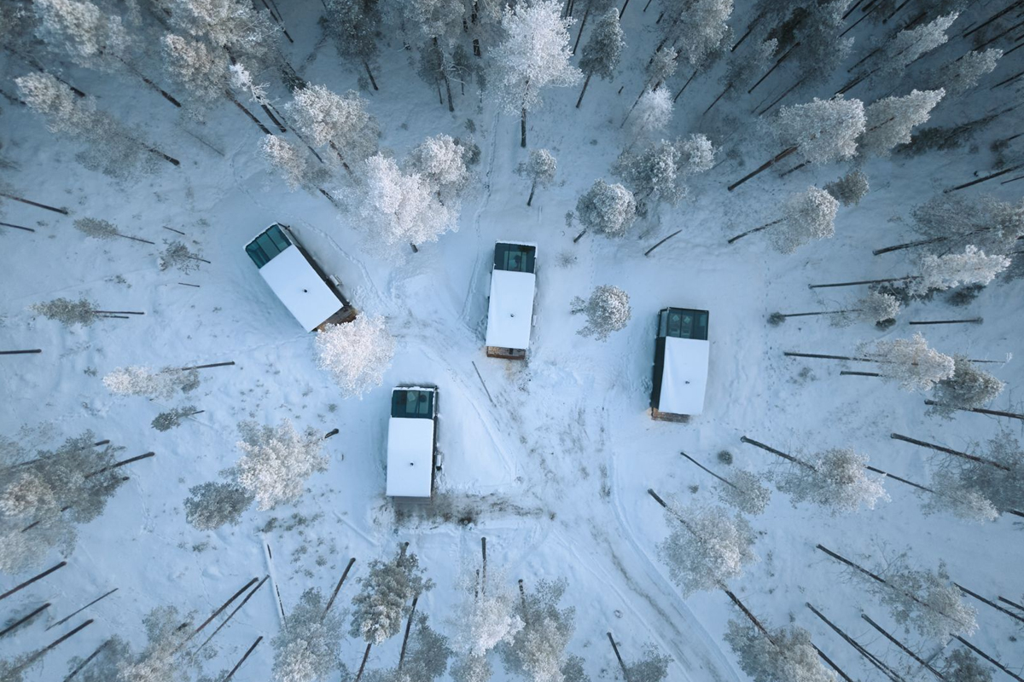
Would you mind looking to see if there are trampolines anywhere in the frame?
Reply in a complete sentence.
No, no trampoline is visible in the view.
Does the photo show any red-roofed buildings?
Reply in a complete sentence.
No, no red-roofed building is visible in the view.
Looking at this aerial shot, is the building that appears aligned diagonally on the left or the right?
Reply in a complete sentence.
The building that appears aligned diagonally sits on the left side.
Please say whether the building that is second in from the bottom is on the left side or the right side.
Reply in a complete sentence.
The building that is second in from the bottom is on the right side of the image.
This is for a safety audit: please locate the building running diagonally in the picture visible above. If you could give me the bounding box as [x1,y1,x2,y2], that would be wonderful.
[246,222,357,340]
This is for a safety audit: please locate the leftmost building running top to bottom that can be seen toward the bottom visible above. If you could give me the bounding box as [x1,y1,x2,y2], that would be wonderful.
[387,385,439,502]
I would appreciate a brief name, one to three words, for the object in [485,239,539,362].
building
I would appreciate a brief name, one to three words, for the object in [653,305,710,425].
building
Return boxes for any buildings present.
[387,385,439,502]
[485,239,539,362]
[653,305,710,425]
[246,222,357,340]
